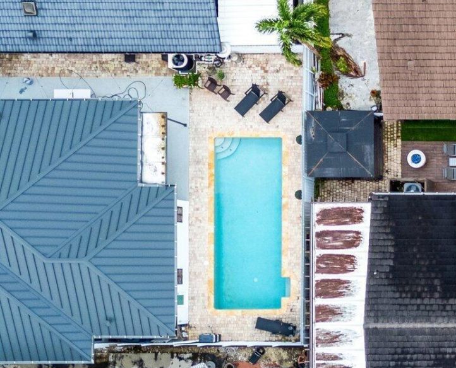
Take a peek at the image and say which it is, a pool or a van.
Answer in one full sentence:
Visible in the photo is a pool.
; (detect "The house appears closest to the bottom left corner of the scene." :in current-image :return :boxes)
[0,97,188,364]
